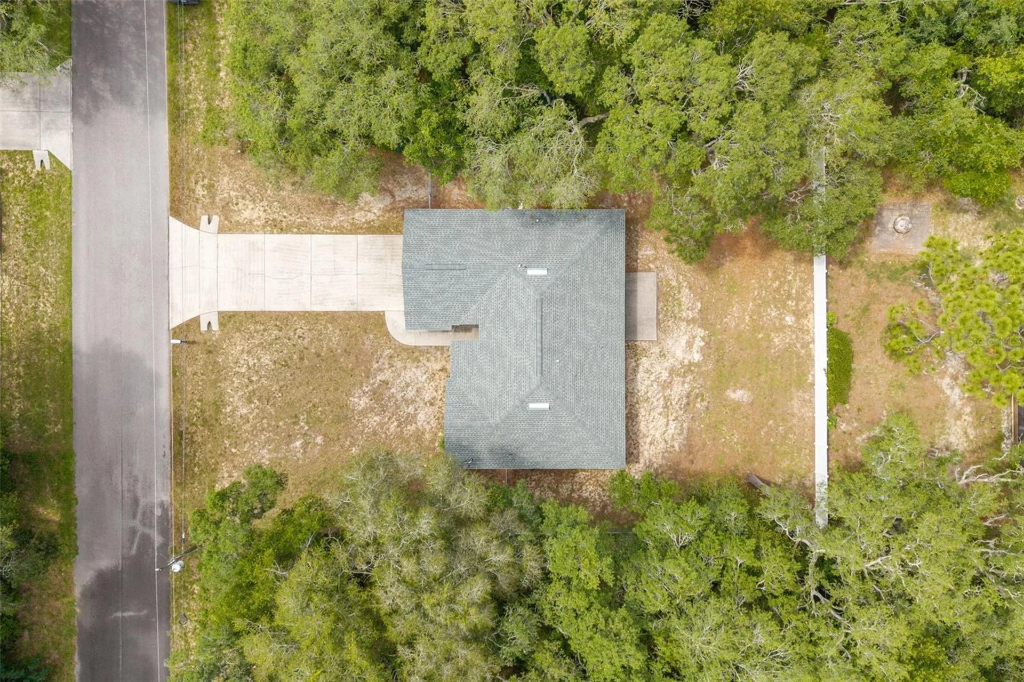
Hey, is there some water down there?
No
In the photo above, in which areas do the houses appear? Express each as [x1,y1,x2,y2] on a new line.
[402,207,627,471]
